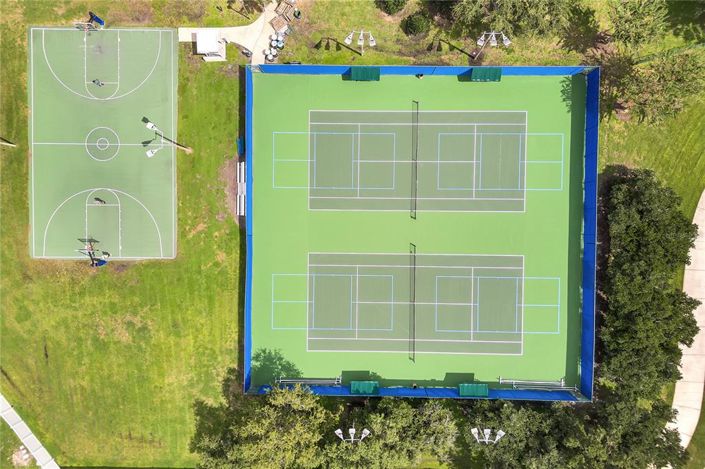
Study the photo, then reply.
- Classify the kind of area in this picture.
sports ground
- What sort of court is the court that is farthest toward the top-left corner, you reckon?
basketball court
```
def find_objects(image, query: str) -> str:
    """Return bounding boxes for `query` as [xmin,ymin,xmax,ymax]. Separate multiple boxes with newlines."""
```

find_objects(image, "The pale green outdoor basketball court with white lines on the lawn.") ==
[28,27,176,261]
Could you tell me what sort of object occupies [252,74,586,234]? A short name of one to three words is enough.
tennis court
